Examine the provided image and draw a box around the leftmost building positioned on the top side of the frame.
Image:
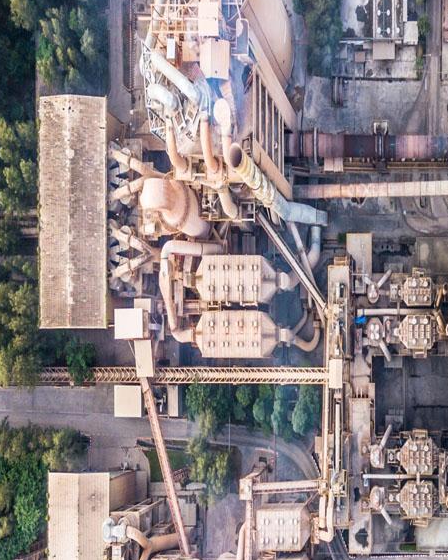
[37,92,123,330]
